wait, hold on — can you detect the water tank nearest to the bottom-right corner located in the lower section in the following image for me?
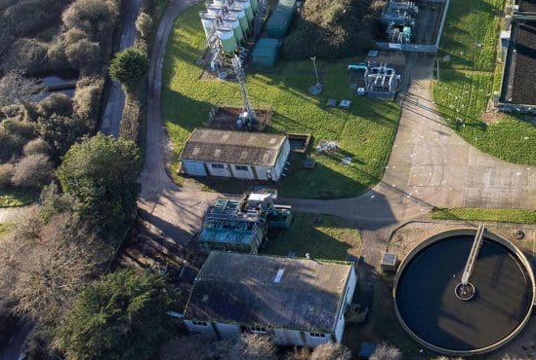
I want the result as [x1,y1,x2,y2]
[393,223,536,360]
